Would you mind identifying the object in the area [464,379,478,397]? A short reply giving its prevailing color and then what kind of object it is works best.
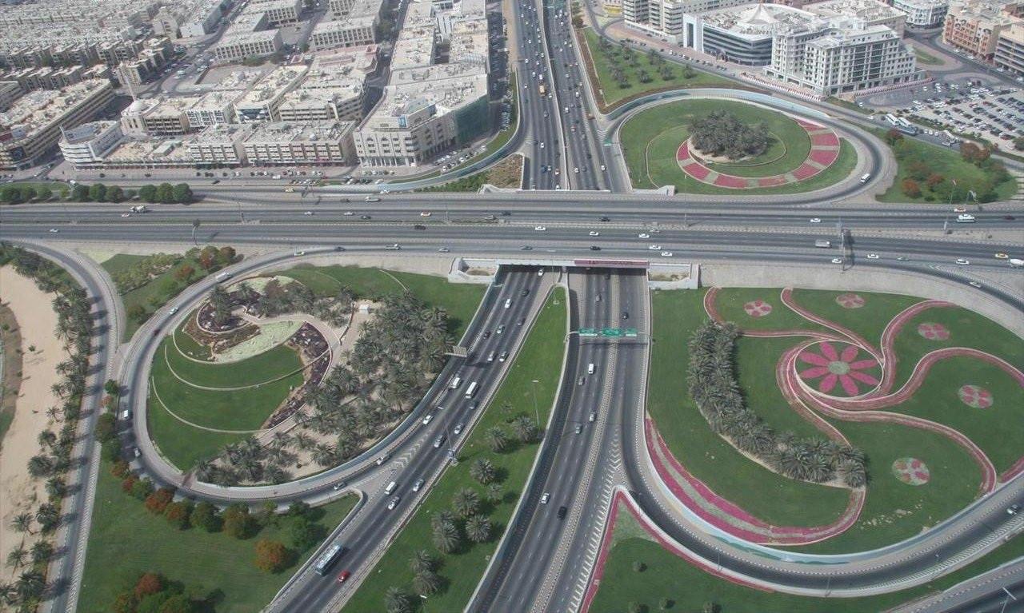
white vehicle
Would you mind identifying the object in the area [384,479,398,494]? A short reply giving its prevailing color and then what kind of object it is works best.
white vehicle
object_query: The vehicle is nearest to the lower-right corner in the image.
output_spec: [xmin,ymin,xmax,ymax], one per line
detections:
[1005,503,1021,515]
